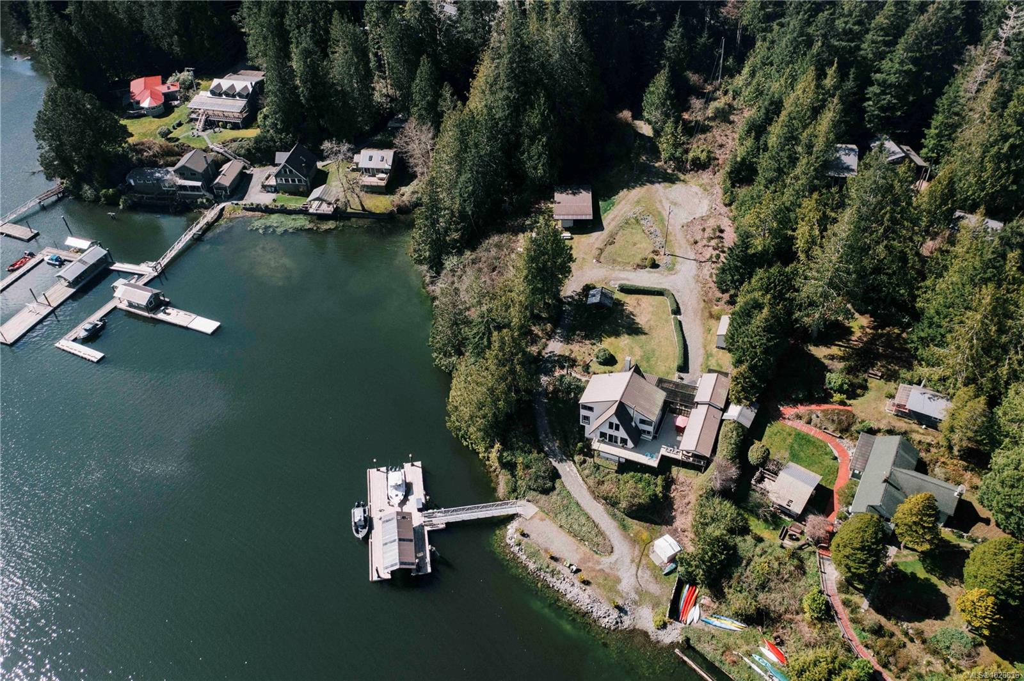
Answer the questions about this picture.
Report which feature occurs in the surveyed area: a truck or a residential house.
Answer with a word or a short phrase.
residential house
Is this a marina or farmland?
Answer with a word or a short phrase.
marina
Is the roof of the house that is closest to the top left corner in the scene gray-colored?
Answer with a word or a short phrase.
No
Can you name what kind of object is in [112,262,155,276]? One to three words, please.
pier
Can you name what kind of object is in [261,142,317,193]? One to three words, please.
building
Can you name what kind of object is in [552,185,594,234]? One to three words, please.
shed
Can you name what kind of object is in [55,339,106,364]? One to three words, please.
pier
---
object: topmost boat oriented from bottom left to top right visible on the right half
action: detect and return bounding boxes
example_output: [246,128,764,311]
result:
[660,560,679,576]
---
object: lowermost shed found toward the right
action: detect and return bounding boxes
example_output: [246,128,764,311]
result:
[649,534,682,566]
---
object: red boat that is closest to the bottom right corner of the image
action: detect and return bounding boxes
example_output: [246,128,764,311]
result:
[763,639,786,664]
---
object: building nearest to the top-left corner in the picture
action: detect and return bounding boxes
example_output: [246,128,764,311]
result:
[128,76,182,115]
